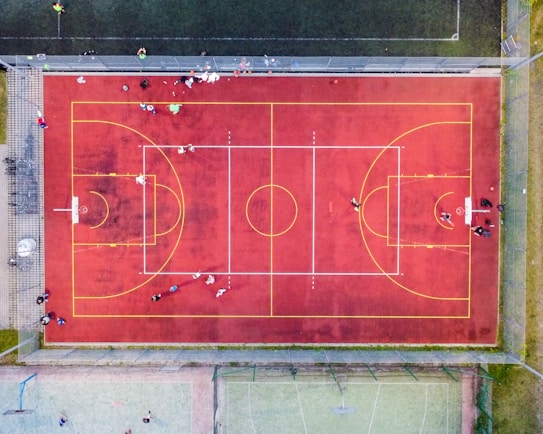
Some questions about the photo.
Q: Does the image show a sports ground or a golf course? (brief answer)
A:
sports ground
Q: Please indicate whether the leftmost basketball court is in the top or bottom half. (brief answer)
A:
bottom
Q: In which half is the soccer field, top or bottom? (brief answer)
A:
top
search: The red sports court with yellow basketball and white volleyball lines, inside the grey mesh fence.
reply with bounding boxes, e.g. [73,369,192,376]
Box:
[44,75,500,344]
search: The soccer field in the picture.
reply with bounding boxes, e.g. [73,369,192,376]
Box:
[0,0,500,68]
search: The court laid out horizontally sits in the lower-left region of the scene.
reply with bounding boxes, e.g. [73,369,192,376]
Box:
[0,366,213,434]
